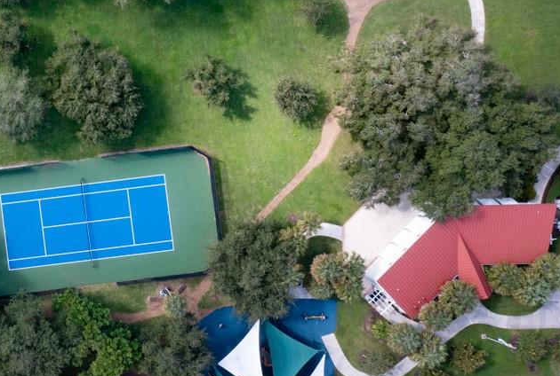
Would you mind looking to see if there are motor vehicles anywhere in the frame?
No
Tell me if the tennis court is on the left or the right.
left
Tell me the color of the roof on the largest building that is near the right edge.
red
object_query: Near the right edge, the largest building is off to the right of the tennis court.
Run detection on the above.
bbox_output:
[364,196,557,319]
